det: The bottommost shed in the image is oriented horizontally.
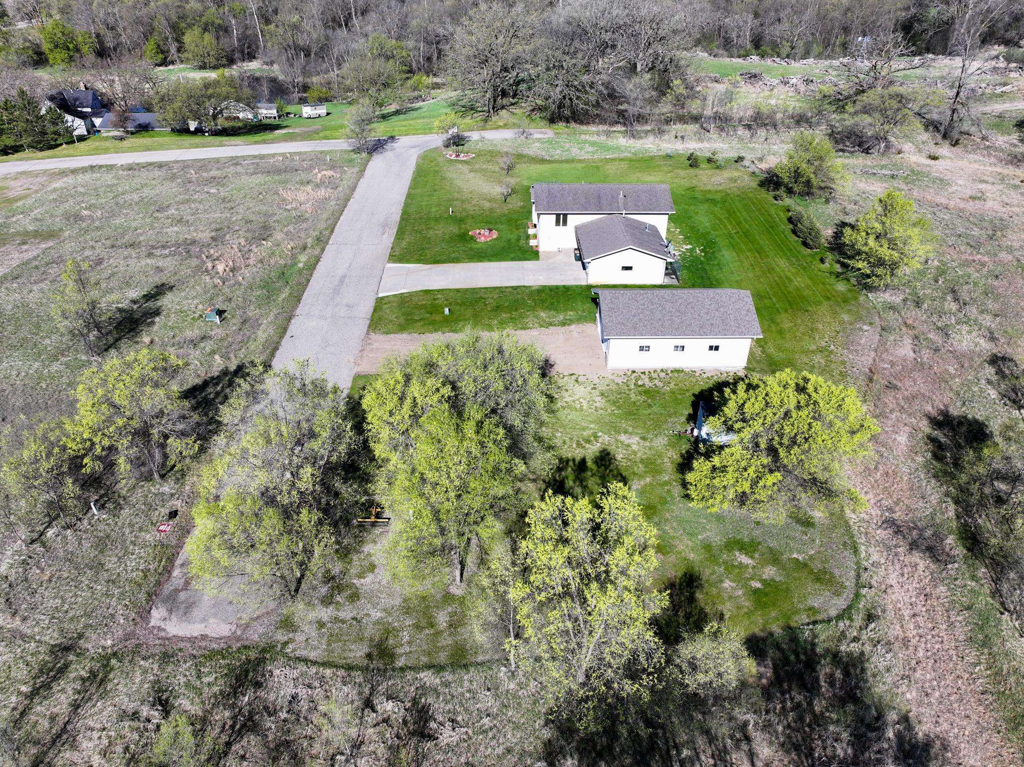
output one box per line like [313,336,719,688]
[591,289,764,368]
